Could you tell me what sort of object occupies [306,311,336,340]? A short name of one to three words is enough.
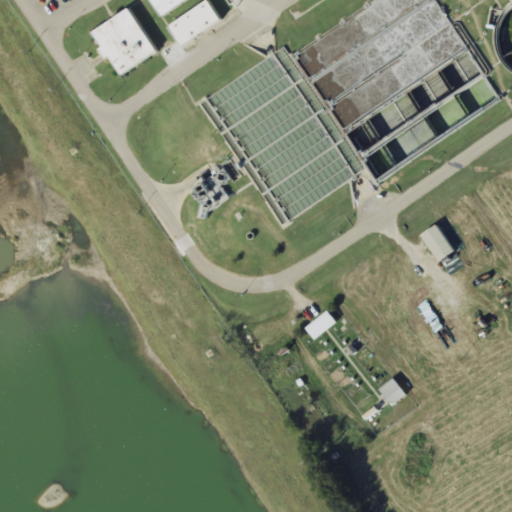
barn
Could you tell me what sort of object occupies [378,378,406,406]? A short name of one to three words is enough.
barn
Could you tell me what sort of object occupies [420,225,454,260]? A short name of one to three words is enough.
shed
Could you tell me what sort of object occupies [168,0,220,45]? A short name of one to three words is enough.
building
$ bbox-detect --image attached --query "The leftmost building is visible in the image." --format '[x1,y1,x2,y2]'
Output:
[90,8,157,76]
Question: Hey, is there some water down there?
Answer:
Yes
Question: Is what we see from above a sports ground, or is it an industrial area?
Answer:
industrial area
